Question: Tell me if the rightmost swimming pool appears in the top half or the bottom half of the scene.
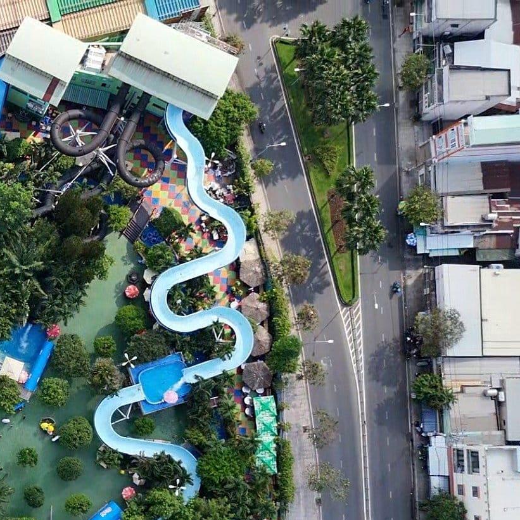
bottom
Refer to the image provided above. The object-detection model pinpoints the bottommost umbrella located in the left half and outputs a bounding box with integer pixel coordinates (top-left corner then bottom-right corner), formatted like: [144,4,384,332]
[121,486,134,500]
